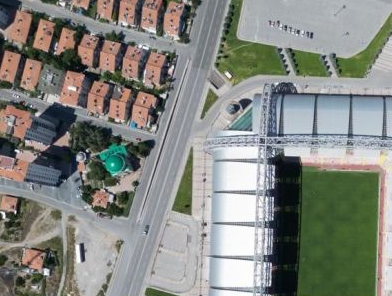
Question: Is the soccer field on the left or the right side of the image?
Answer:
right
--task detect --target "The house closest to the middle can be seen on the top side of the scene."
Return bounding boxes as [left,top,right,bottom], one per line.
[133,95,160,128]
